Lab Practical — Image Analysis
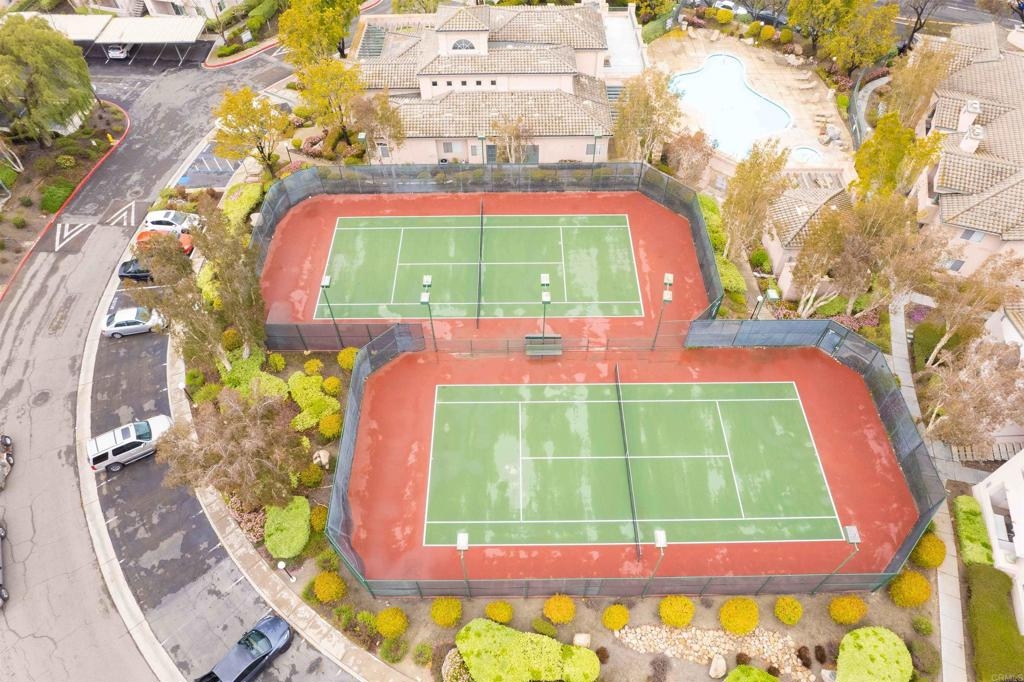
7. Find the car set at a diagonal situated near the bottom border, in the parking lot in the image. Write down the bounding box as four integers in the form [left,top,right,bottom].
[197,612,292,682]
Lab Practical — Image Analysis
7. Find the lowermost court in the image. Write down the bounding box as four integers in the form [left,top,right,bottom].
[338,346,919,582]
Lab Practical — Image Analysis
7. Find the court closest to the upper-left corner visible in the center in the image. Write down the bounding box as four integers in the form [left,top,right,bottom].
[262,191,710,349]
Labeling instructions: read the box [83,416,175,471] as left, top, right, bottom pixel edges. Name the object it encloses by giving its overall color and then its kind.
white car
